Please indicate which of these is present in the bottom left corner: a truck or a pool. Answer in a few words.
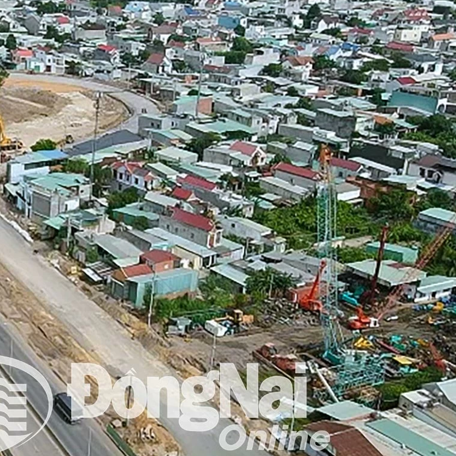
truck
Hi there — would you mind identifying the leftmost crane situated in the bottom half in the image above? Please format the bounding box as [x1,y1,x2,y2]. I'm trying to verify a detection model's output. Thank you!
[299,261,335,316]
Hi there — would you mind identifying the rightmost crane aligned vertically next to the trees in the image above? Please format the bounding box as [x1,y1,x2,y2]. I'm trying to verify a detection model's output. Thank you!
[357,224,387,311]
